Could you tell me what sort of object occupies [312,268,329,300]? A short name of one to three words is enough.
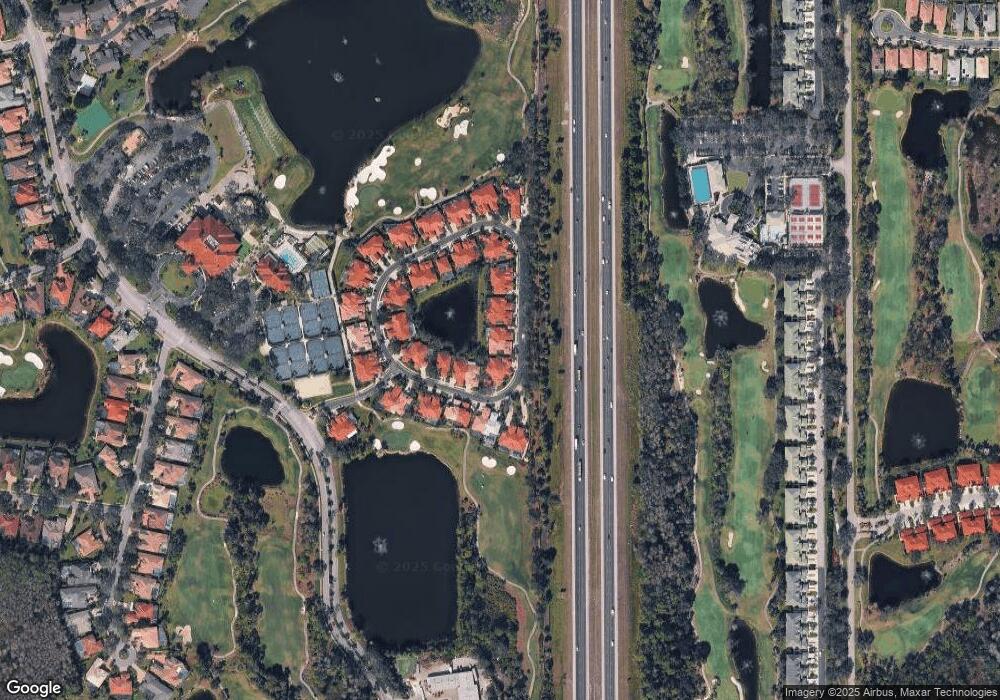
tennis court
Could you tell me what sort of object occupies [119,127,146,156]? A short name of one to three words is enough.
barn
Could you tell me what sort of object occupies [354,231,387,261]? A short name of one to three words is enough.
house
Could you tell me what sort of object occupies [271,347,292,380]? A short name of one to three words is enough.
tennis court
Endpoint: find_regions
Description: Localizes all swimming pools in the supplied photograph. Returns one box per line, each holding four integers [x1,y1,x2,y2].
[275,241,306,272]
[688,161,727,207]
